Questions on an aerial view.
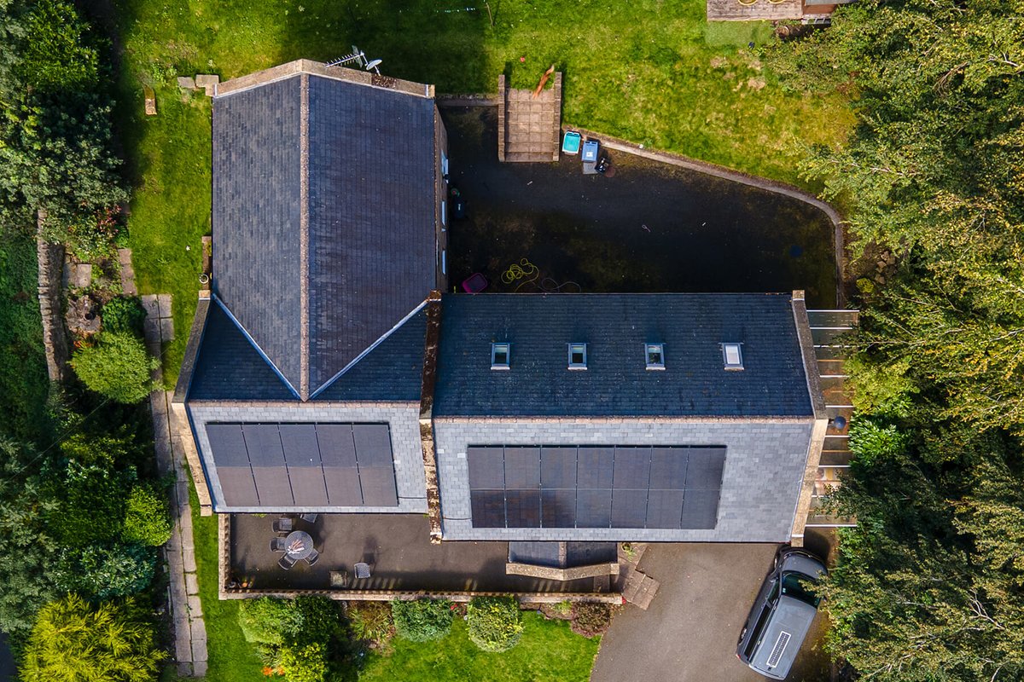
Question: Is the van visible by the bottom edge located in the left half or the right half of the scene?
right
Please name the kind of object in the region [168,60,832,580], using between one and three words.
house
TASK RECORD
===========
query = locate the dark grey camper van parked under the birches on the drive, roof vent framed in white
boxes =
[732,543,828,682]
